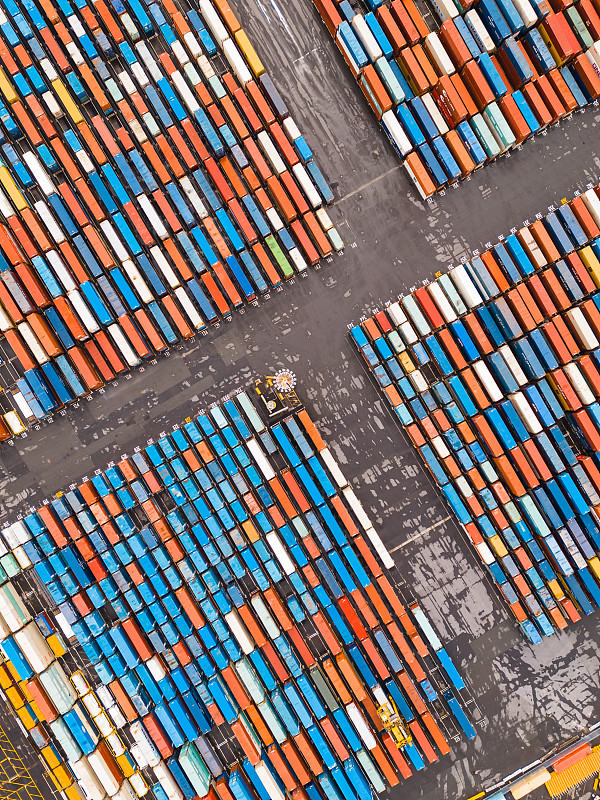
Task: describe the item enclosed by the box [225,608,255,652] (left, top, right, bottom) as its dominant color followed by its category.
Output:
white shipping container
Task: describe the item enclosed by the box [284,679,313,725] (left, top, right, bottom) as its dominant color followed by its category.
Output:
blue shipping container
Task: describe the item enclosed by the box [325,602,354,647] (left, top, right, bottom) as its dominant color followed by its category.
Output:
blue shipping container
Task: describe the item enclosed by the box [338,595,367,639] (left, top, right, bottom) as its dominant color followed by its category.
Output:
red shipping container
